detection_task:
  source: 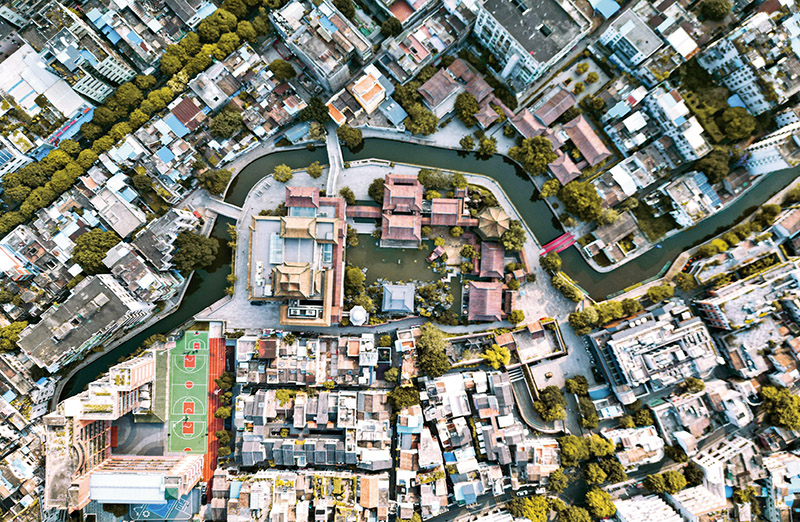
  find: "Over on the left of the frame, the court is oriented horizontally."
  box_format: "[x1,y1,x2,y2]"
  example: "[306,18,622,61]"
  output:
[112,500,194,522]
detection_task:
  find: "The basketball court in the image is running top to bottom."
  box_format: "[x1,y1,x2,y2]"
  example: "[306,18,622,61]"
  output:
[168,331,209,457]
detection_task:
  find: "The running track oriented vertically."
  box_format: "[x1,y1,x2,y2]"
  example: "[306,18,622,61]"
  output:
[209,322,225,496]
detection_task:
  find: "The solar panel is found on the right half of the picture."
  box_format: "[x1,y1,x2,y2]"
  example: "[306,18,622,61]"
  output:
[694,173,722,206]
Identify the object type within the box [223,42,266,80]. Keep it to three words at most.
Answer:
house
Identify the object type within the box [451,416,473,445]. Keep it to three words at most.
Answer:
house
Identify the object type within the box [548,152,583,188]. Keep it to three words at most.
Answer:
building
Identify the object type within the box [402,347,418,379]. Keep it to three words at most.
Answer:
shed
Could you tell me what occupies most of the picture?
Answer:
buildings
